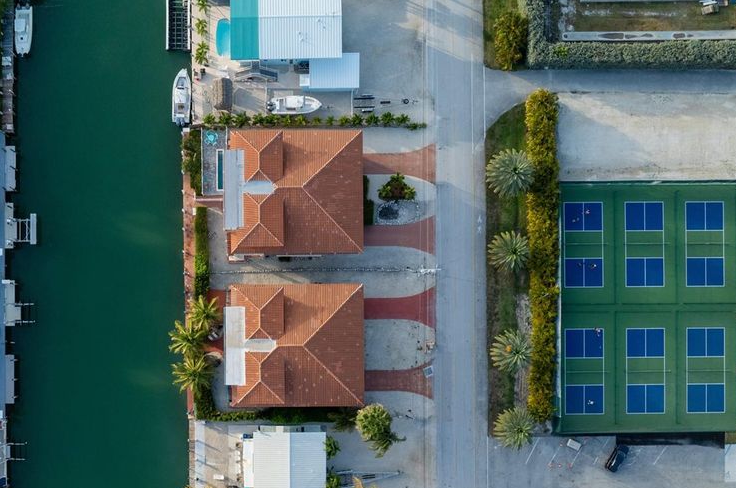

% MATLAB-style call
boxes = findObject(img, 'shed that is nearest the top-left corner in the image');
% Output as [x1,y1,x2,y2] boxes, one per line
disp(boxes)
[210,71,233,108]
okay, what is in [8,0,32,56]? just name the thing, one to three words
boat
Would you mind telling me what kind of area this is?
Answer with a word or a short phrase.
residential area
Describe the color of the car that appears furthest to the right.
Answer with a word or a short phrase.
black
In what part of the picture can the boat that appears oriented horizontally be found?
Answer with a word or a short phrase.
top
